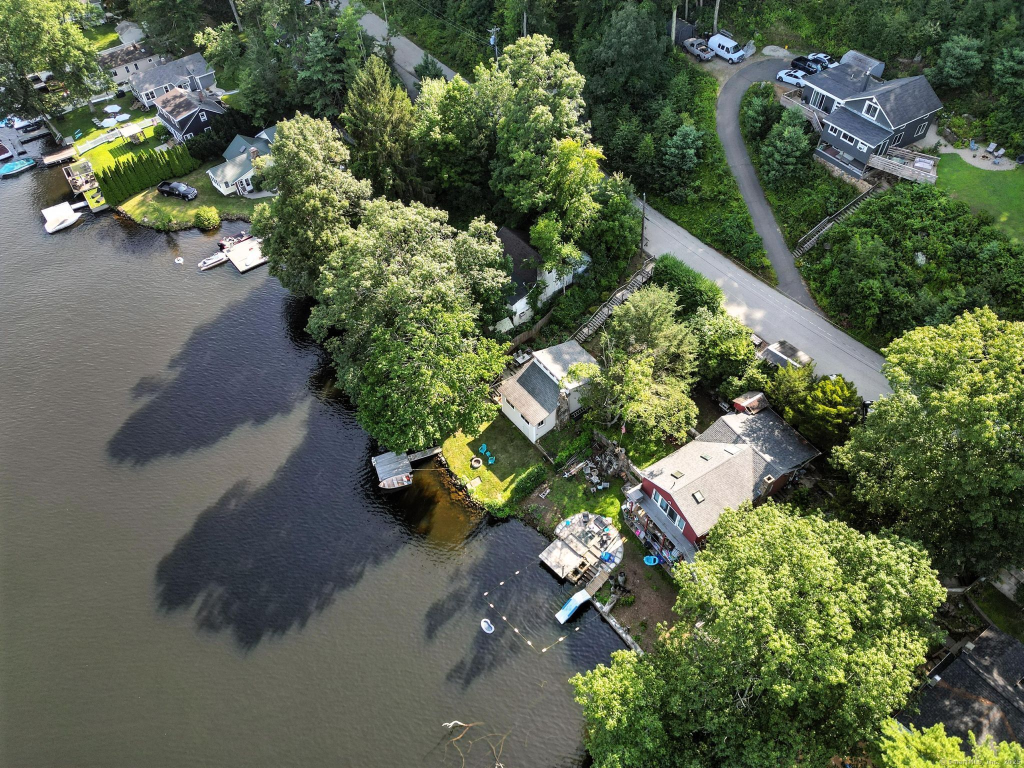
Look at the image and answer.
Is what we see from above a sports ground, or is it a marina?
marina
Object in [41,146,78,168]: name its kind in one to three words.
pier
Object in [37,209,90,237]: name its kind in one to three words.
boat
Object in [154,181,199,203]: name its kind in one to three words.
truck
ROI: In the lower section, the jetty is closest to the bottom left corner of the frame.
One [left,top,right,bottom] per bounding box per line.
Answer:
[371,450,411,483]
